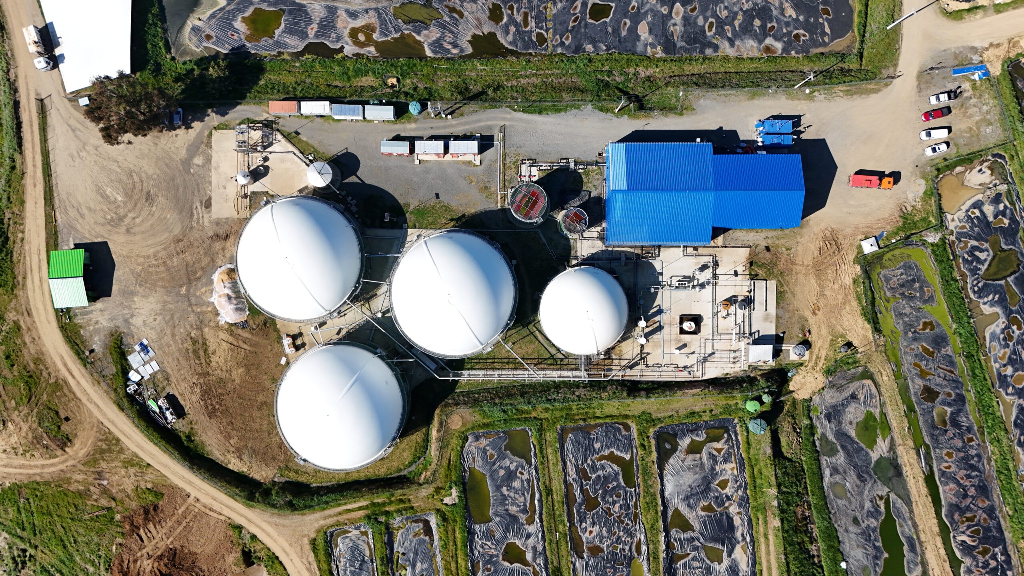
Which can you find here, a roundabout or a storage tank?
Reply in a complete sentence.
Of the two, only a storage tank appears.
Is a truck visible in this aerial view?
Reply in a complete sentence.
Yes, the picture does show a truck.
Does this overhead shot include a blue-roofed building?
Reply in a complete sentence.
Yes, this view includes a blue-roofed building.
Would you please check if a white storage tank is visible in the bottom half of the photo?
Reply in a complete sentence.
Yes, there is a white storage tank in the bottom half of the photo.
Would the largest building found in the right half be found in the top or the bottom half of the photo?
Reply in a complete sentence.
It is in the top half that the largest building found in the right half appears.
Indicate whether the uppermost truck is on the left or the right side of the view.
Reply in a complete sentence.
The uppermost truck sits on the left side.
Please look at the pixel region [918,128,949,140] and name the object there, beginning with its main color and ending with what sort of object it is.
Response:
white vehicle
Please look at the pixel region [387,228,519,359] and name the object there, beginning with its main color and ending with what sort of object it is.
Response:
white storage tank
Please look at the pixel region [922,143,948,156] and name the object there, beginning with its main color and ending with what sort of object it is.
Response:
white vehicle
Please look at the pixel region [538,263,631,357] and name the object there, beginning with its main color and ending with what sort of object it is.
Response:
white storage tank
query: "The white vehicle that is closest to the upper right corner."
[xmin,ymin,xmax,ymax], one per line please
[926,91,955,105]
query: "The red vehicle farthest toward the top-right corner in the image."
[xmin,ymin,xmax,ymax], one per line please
[920,108,949,123]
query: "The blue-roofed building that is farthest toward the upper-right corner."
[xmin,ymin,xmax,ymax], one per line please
[606,142,804,244]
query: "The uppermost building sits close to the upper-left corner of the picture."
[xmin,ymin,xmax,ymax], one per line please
[39,0,137,94]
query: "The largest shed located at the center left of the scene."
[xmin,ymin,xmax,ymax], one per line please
[49,249,94,308]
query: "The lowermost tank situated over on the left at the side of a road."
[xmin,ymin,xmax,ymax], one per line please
[273,342,407,474]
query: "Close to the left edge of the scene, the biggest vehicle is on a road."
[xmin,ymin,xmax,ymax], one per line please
[23,22,57,71]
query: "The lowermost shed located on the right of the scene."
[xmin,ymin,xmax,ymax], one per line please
[746,345,773,362]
